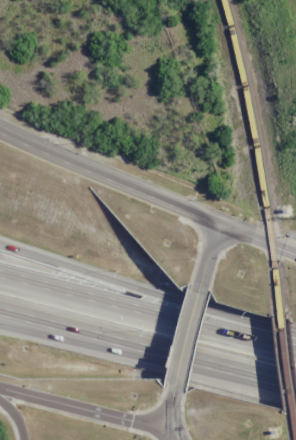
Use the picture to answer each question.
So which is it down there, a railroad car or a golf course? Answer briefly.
railroad car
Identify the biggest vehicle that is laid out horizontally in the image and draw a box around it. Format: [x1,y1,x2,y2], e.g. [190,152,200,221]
[216,328,256,342]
